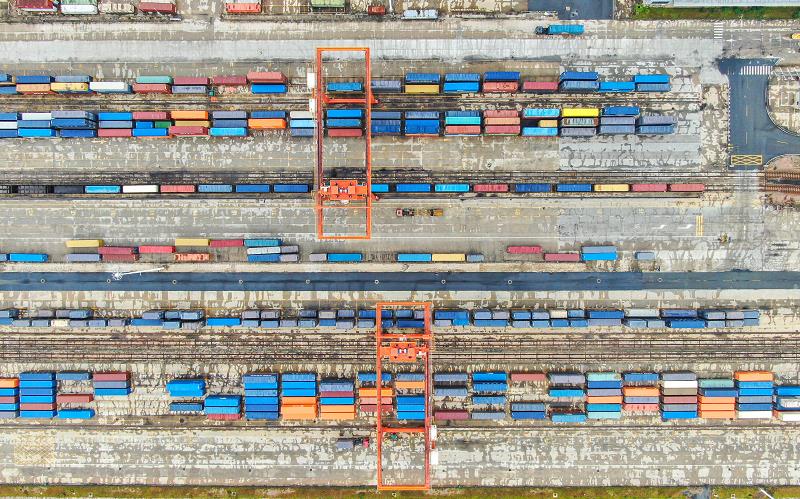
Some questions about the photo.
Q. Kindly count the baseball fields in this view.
0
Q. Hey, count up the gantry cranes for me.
2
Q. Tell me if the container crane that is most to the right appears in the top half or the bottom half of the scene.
bottom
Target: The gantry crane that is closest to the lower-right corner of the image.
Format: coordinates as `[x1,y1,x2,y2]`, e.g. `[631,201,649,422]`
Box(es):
[376,303,441,488]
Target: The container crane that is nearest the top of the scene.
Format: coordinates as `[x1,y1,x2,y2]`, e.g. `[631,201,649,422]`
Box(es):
[308,49,380,237]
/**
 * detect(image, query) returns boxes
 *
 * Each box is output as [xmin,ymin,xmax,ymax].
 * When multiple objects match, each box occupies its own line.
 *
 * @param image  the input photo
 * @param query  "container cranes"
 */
[308,49,380,237]
[376,303,441,488]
